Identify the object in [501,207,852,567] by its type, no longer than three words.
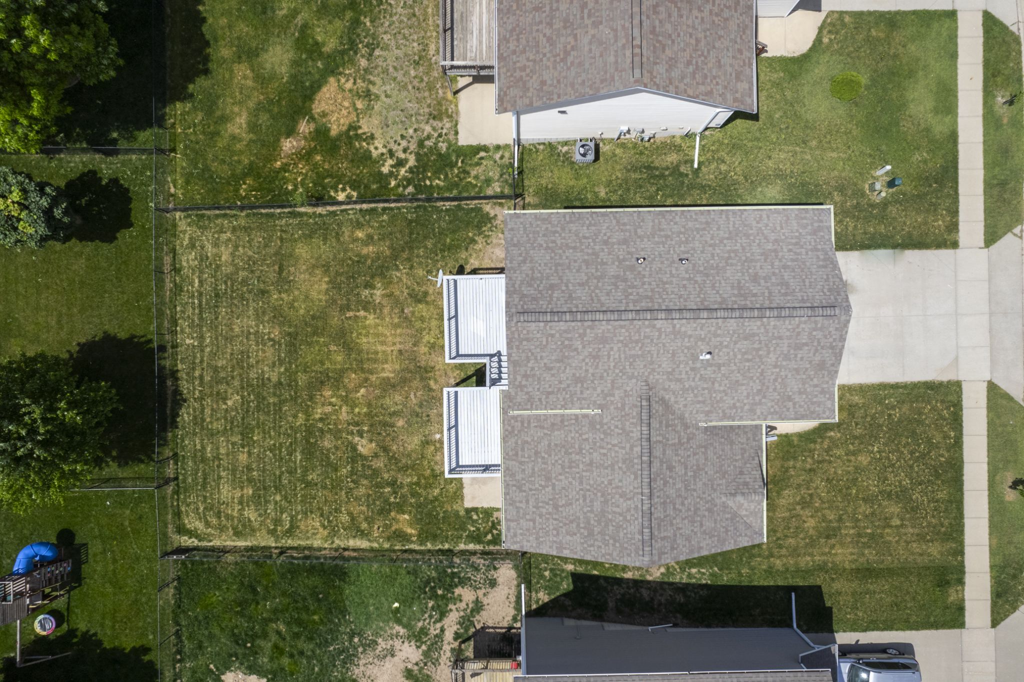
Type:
house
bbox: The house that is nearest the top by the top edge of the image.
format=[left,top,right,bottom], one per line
[494,0,799,175]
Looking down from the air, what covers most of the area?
grass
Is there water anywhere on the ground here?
No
